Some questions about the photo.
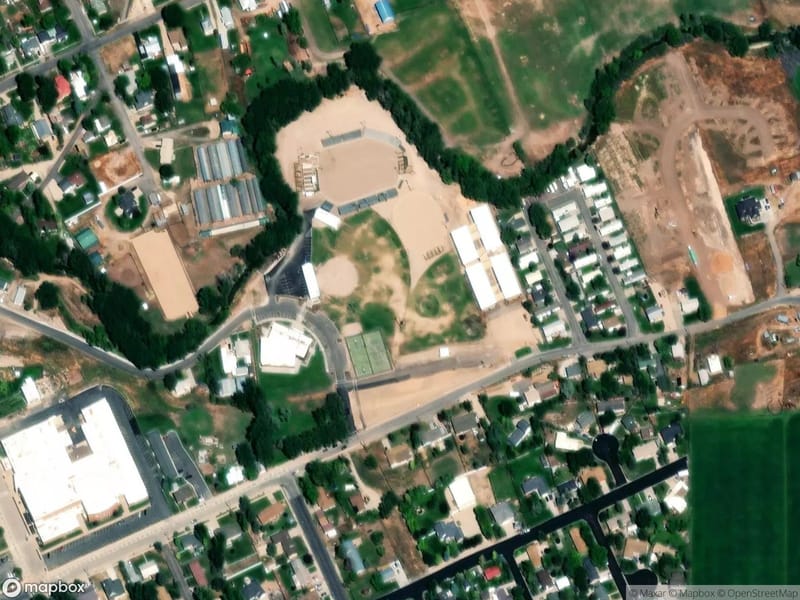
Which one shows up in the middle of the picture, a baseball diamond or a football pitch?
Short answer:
baseball diamond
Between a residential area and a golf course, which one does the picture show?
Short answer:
residential area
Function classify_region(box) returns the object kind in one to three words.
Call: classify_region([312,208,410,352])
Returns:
baseball field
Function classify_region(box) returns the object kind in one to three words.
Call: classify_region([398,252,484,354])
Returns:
baseball field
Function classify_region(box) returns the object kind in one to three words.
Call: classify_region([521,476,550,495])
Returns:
house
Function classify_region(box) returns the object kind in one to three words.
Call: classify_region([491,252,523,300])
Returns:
building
